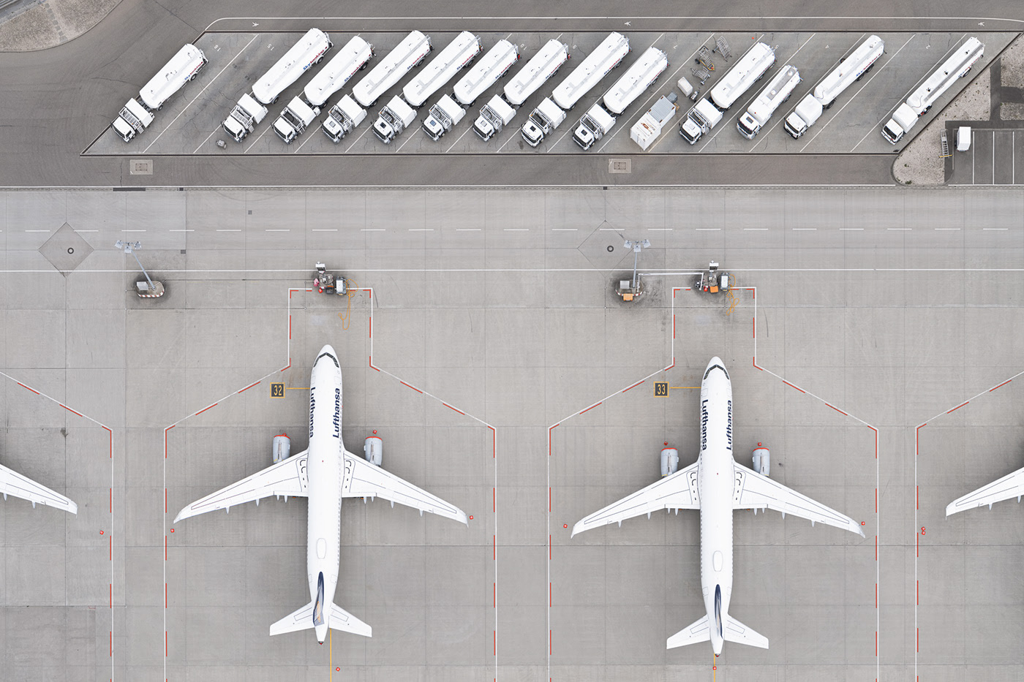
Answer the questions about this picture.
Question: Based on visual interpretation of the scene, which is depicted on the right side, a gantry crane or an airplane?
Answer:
airplane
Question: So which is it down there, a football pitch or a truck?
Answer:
truck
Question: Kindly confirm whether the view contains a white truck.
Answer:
Yes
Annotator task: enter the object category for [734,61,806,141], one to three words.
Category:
truck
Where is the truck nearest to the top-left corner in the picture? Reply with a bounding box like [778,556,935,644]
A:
[107,44,205,144]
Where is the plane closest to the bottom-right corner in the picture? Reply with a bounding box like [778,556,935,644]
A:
[944,465,1024,521]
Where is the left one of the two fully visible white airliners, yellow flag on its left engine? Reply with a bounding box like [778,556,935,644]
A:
[173,344,467,647]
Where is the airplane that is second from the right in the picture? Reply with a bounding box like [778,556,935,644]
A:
[572,356,866,659]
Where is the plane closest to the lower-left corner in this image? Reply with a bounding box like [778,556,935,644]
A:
[0,465,78,519]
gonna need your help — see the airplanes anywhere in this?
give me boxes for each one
[944,465,1024,521]
[572,356,866,659]
[173,344,467,647]
[0,465,78,519]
